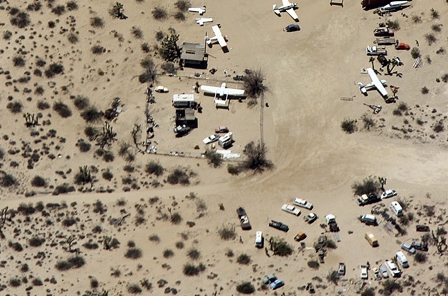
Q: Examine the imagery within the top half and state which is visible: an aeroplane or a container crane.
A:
aeroplane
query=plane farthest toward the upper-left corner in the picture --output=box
[203,25,226,48]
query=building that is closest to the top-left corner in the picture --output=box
[181,43,205,66]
